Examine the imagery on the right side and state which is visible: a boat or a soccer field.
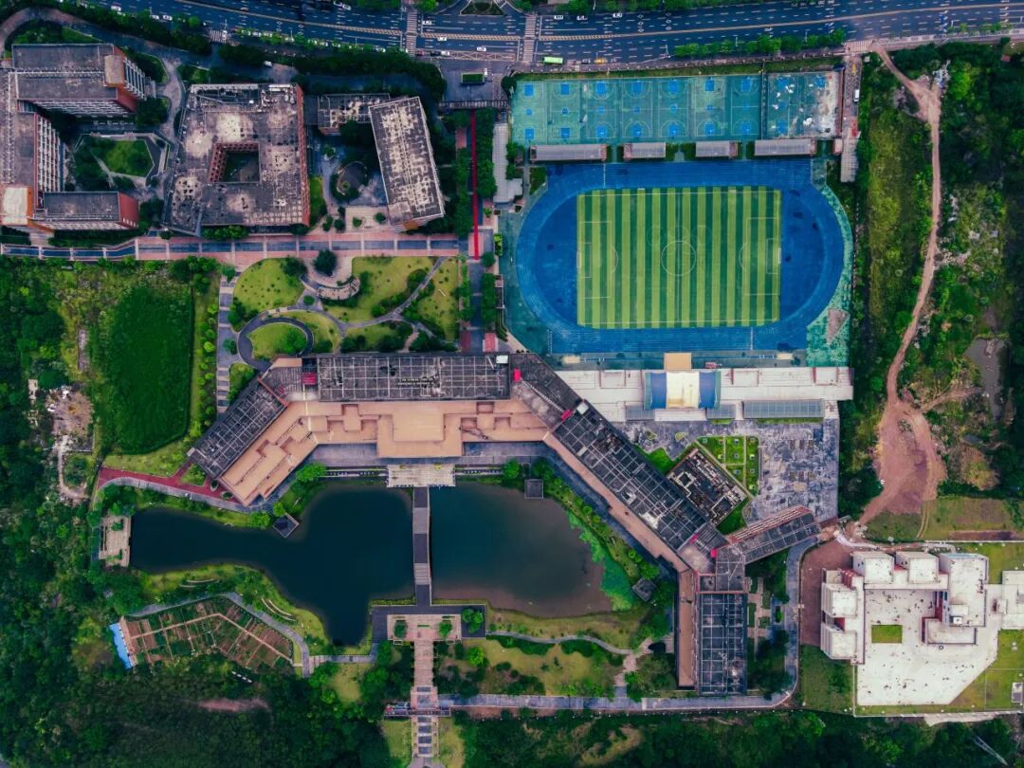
soccer field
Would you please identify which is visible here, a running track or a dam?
running track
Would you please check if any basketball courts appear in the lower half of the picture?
No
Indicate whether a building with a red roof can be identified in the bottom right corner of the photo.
No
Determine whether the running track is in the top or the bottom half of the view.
top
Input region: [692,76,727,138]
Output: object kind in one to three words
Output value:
basketball court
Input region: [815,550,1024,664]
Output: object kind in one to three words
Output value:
building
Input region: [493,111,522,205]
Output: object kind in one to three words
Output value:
building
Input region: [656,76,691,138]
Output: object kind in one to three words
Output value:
basketball court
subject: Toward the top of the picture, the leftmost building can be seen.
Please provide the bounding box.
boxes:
[0,43,154,236]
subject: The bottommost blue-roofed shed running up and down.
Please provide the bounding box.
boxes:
[111,623,132,669]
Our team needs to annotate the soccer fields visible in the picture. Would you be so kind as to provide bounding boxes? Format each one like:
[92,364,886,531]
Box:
[575,186,781,328]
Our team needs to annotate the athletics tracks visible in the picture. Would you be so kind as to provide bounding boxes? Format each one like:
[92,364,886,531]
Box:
[517,159,843,354]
